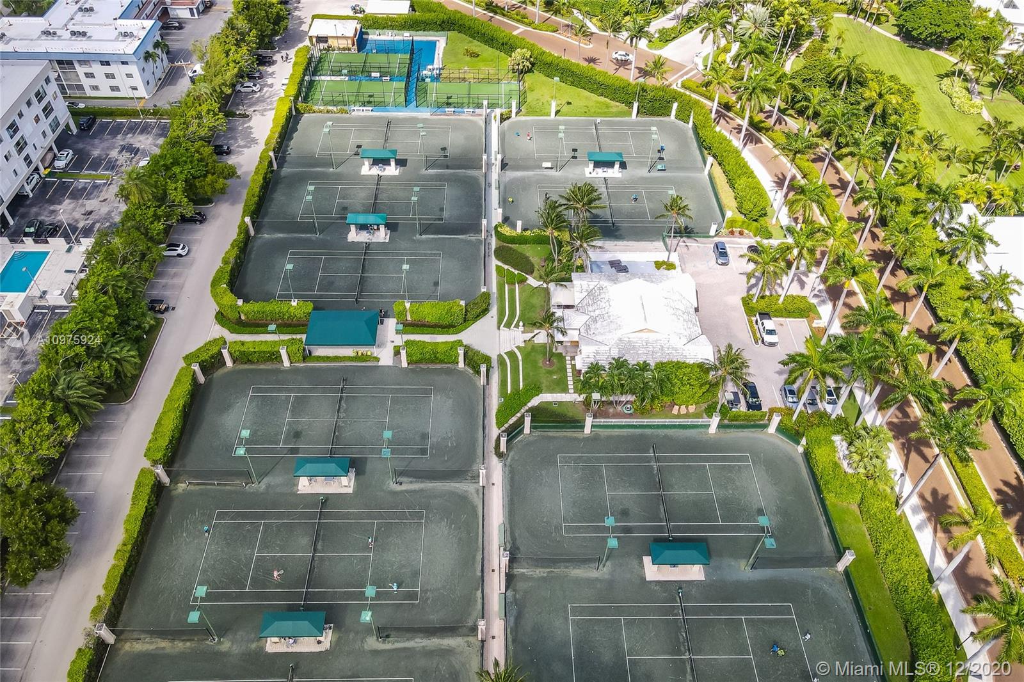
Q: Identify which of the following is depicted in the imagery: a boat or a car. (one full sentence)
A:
The one in the frame is a car.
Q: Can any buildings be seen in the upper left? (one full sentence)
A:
Yes, I can see a building in the upper left.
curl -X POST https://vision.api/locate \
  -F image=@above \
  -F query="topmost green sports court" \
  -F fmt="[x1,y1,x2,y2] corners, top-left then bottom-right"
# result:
[309,25,410,77]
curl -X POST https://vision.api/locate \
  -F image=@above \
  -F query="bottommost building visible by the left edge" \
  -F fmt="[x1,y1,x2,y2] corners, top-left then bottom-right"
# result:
[0,293,34,323]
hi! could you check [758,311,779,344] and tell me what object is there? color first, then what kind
white truck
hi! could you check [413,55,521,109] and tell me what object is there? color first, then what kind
green sports court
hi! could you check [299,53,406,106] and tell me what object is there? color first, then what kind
green sports court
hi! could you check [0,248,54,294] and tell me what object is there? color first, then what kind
blue swimming pool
